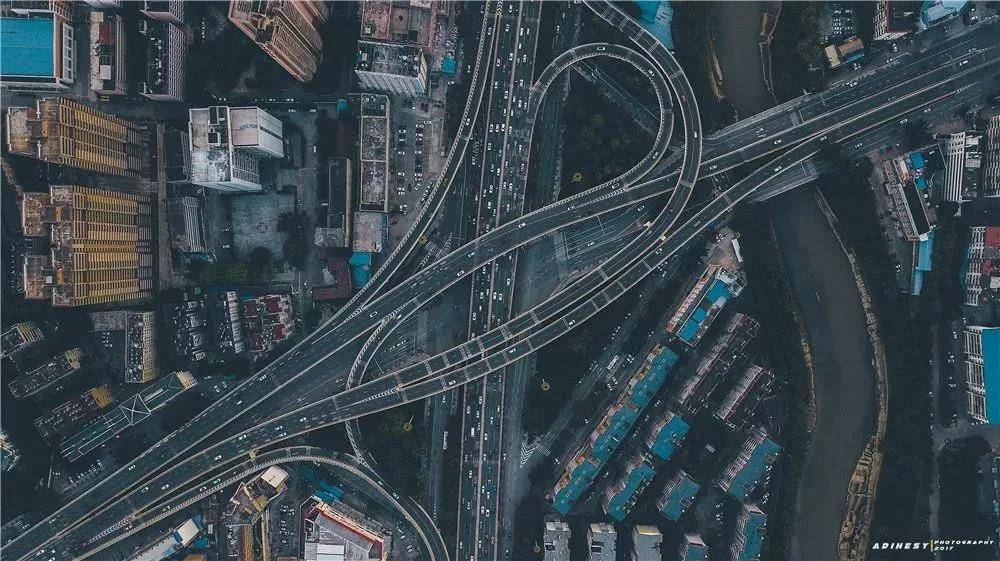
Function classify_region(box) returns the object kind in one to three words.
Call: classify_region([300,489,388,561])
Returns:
building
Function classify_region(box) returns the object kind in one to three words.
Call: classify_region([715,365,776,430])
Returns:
building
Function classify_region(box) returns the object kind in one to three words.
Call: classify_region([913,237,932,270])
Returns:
shed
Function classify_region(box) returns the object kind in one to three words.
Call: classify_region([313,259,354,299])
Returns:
house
